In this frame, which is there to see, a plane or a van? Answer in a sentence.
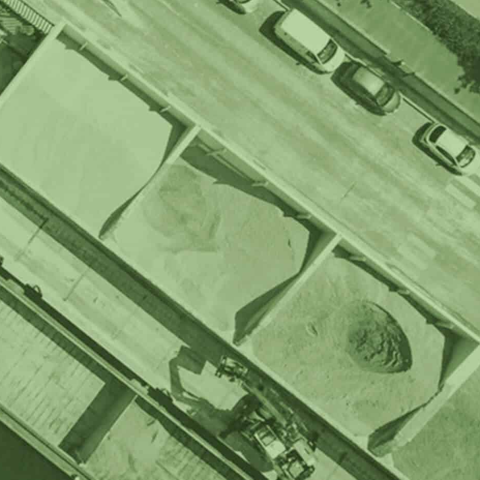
I can see a van in this picture.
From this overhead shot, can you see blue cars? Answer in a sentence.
No, the scene contains no blue car.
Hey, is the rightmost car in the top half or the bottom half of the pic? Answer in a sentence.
You can find the rightmost car in the top half.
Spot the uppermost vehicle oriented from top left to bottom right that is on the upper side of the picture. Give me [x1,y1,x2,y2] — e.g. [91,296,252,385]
[272,9,346,72]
